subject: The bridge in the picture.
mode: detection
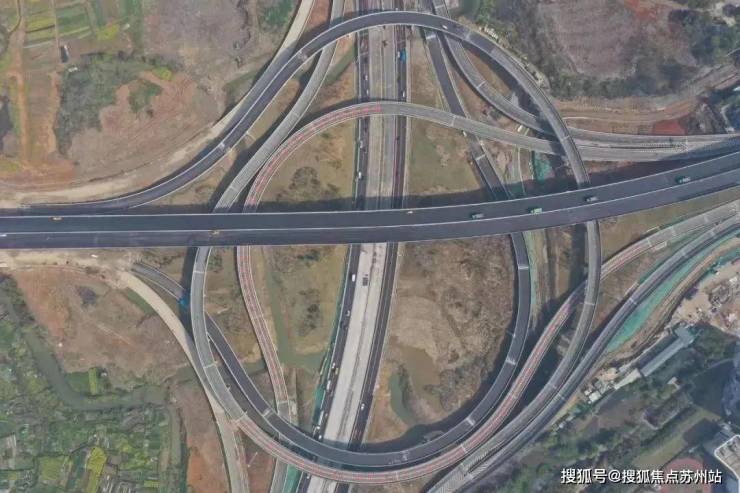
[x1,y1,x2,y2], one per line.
[0,150,740,250]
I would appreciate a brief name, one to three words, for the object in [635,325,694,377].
shed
